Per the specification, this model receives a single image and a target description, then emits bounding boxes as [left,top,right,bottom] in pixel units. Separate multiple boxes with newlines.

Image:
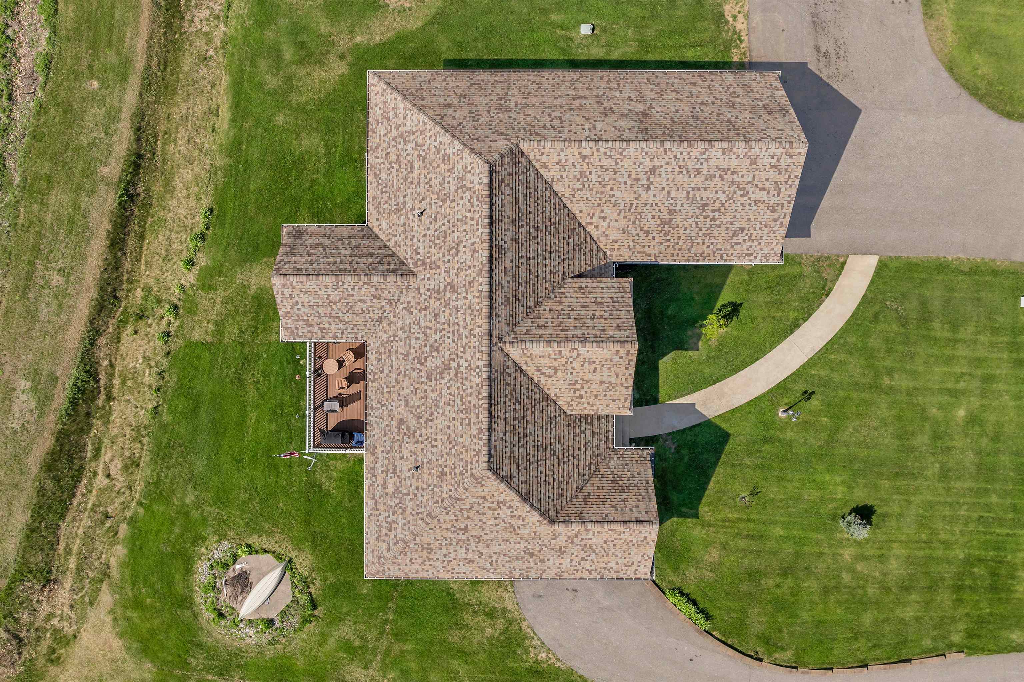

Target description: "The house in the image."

[271,70,809,579]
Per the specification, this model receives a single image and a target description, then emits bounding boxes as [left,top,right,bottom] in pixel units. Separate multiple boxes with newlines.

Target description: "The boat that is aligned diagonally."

[238,561,287,620]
